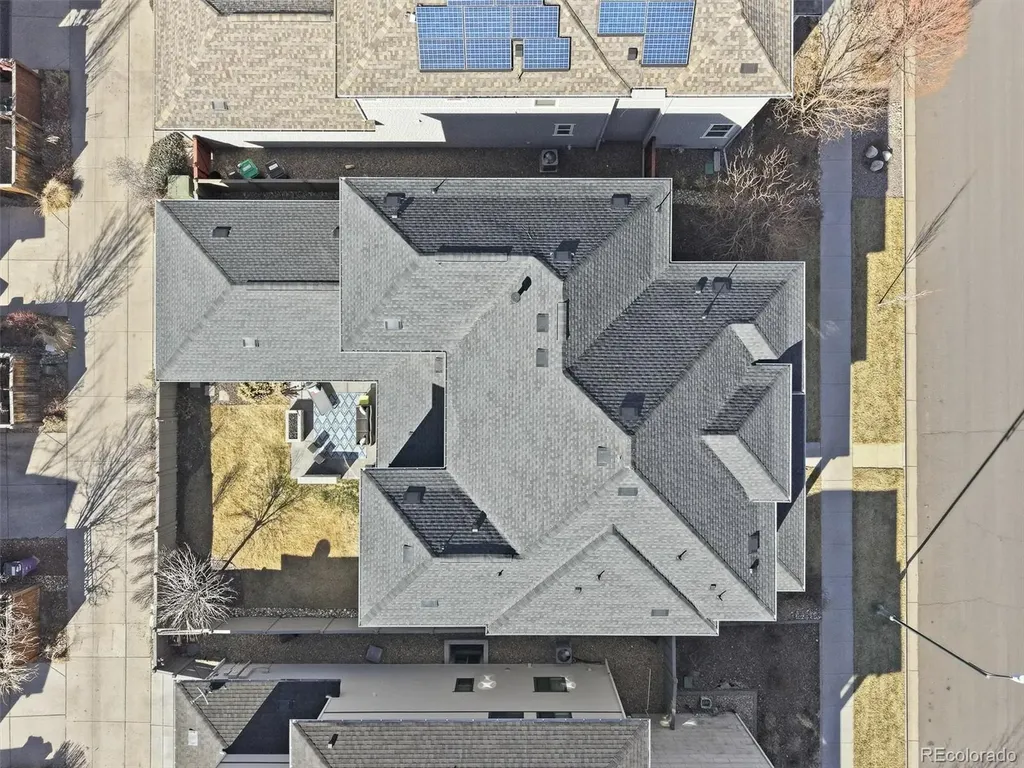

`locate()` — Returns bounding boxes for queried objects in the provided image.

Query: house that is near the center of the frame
[155,177,806,636]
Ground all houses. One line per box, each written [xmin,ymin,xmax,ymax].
[154,0,835,169]
[174,661,775,768]
[155,177,806,636]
